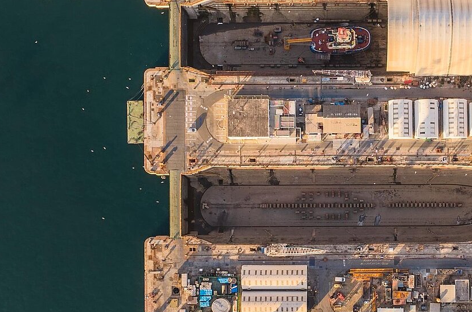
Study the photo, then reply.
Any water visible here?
Yes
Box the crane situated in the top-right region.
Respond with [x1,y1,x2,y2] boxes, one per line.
[313,69,378,87]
